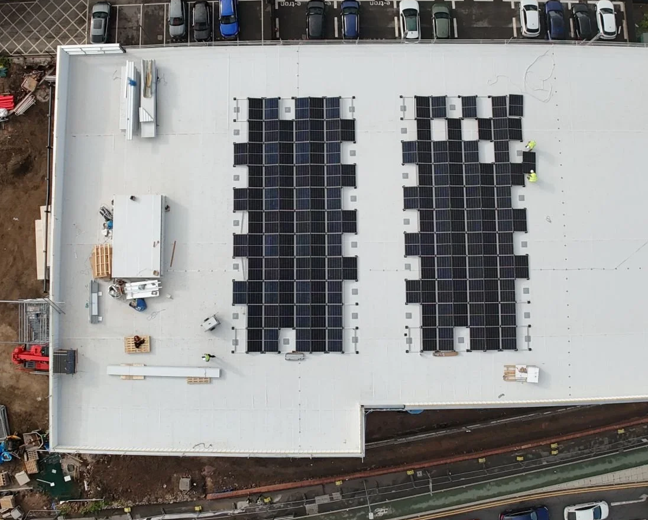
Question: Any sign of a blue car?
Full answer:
Yes, I can see a blue car in this picture.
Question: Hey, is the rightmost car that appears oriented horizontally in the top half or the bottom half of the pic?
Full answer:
Seen from above, the rightmost car that appears oriented horizontally lies in the bottom half of the view.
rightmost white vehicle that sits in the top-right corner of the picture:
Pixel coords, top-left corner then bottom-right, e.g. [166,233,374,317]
[595,0,617,39]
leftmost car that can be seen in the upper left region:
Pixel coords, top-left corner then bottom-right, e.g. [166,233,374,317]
[89,1,111,44]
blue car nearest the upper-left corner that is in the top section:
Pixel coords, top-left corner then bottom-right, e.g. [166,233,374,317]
[216,0,240,38]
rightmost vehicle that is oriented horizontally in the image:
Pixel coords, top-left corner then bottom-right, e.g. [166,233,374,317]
[563,499,609,520]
